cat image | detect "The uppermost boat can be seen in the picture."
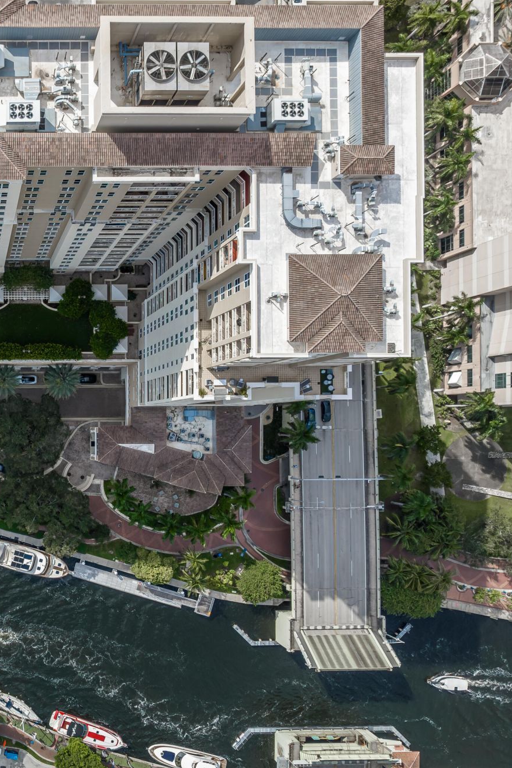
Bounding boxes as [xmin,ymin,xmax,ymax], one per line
[0,542,71,579]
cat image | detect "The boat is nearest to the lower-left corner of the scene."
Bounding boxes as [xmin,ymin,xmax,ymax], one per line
[0,692,42,735]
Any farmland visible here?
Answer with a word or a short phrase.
No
